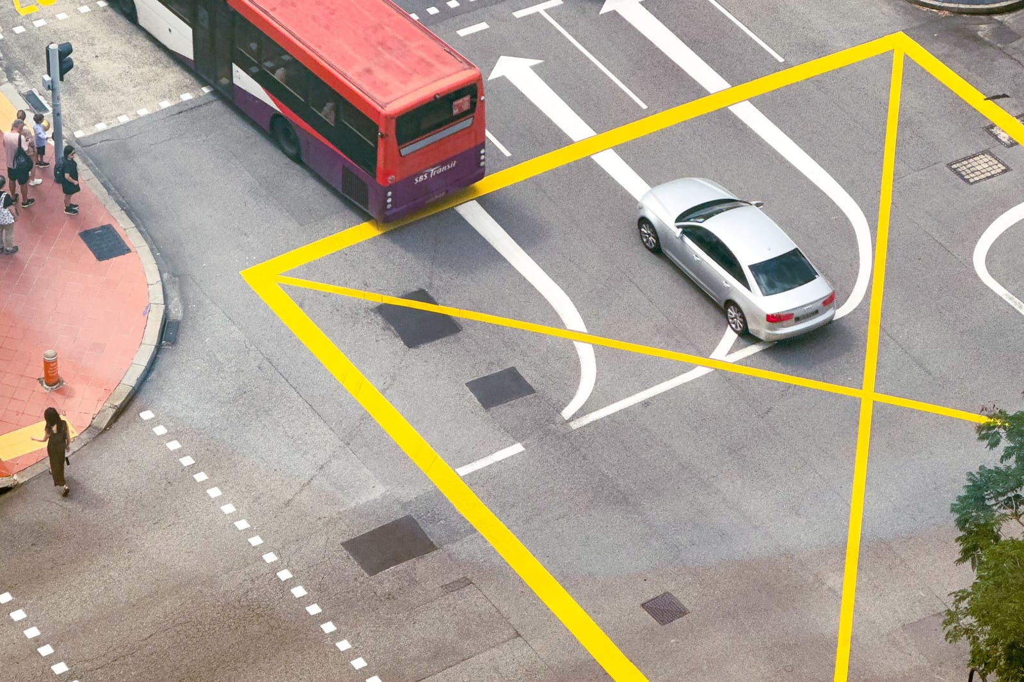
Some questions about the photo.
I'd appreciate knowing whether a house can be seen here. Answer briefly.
No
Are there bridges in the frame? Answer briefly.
No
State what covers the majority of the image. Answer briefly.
paved ground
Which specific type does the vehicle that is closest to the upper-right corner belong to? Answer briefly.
car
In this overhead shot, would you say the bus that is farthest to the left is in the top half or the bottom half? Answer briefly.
top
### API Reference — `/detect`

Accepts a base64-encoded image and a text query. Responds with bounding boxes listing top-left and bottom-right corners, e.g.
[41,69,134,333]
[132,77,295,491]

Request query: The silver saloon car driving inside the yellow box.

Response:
[641,179,835,345]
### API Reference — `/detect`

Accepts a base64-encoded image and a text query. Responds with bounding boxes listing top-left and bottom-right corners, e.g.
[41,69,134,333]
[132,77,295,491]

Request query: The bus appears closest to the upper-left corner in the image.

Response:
[111,0,488,221]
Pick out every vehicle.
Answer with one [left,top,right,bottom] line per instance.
[111,0,488,221]
[641,179,835,345]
